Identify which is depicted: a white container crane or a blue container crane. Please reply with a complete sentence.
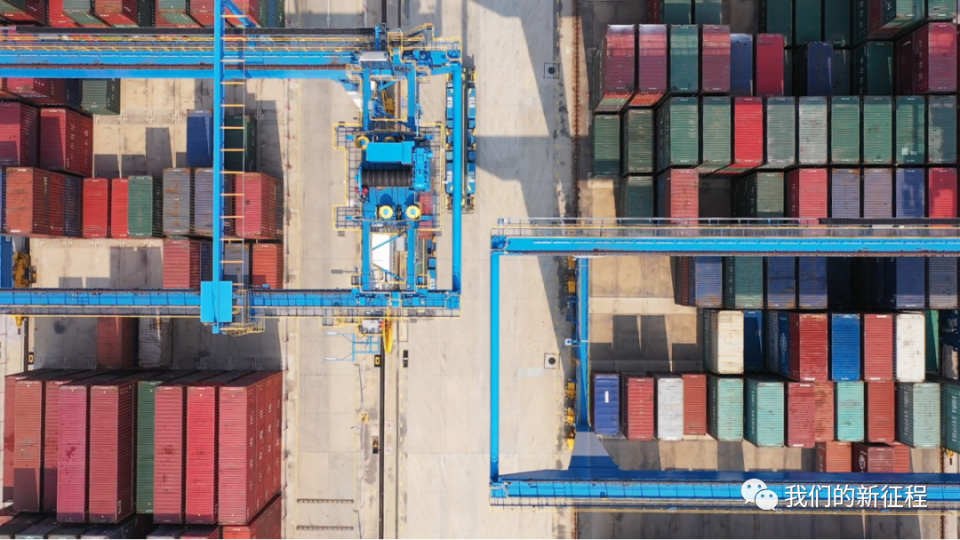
The image shows a blue container crane.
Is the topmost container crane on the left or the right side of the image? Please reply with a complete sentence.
You can find the topmost container crane on the left side of the picture.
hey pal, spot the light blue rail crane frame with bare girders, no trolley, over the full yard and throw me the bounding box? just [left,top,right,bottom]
[490,218,960,508]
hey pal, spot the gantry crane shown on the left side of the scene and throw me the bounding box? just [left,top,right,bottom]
[0,0,462,361]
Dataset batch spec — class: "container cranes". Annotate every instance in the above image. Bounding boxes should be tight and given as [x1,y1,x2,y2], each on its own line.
[0,0,462,361]
[490,218,960,508]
